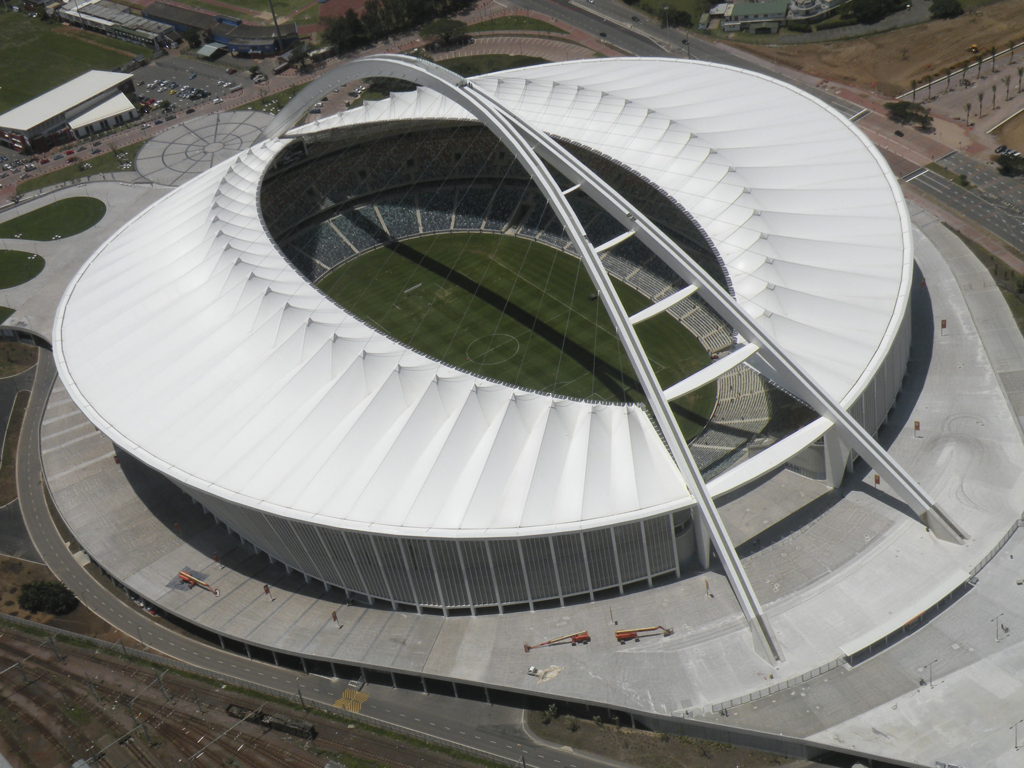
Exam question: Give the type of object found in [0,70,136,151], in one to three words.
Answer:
building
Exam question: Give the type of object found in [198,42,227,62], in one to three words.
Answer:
shed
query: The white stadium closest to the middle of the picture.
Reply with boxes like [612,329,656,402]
[50,58,916,616]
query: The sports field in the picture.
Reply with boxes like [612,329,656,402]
[317,233,720,461]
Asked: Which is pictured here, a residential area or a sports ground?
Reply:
sports ground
